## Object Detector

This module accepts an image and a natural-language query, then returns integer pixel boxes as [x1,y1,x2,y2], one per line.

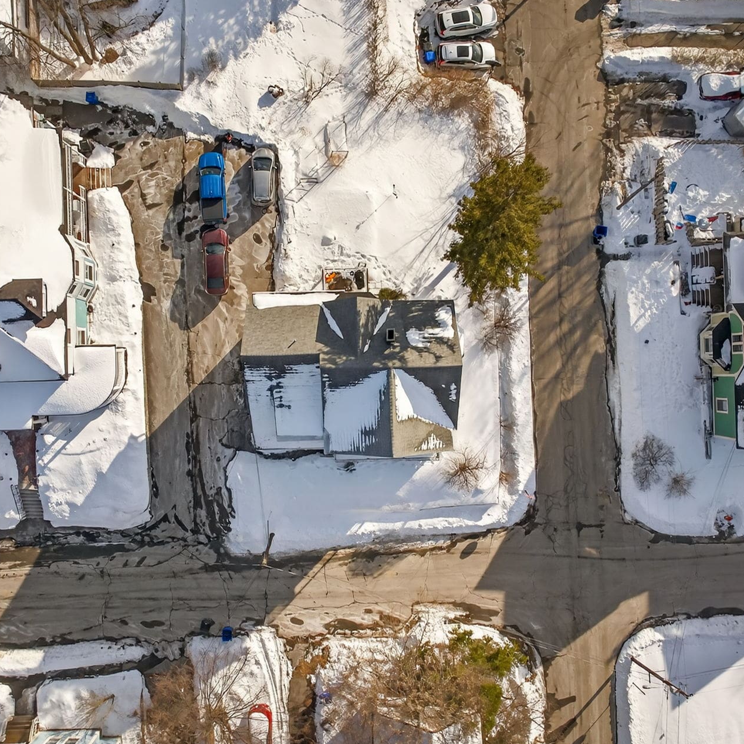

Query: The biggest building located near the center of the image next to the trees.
[241,290,464,462]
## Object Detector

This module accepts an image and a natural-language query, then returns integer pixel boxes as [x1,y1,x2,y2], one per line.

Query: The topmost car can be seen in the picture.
[433,0,496,39]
